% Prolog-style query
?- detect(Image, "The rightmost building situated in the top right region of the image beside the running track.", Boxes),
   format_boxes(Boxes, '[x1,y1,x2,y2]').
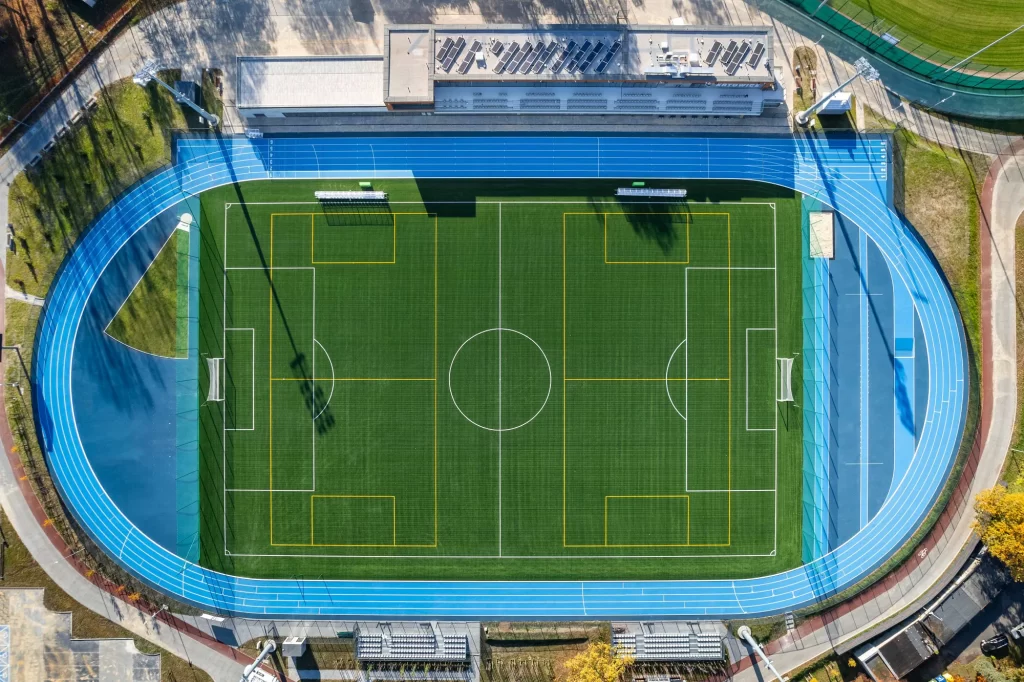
[813,93,851,114]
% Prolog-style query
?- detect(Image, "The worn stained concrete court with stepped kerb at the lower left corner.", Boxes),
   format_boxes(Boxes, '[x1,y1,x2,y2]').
[0,587,162,682]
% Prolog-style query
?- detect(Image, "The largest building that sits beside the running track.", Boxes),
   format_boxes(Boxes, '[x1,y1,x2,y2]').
[237,25,786,122]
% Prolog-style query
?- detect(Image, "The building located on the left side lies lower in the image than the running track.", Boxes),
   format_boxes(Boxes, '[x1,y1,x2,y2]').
[281,637,306,657]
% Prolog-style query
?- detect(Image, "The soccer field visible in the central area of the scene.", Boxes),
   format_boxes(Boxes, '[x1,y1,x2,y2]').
[200,178,803,582]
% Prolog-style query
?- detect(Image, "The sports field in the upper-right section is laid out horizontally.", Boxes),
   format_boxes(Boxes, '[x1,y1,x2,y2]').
[801,0,1024,91]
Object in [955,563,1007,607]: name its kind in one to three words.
building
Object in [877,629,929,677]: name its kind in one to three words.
building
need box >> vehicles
[978,634,1008,651]
[1009,618,1024,637]
[243,668,277,682]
